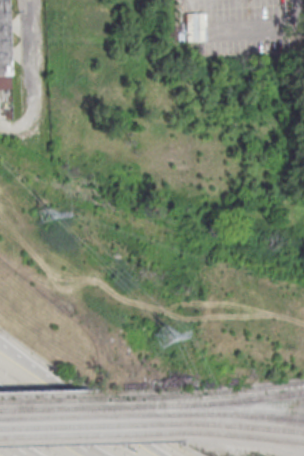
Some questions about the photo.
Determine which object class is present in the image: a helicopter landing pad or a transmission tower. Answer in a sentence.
I can see a transmission tower in this picture.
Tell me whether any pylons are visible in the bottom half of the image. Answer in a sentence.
Yes, the scene does show a pylon in the bottom half of the image.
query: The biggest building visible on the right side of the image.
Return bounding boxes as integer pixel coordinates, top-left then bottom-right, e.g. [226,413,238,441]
[185,14,206,44]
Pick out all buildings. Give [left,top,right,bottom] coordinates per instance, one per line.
[0,0,14,90]
[185,14,206,44]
